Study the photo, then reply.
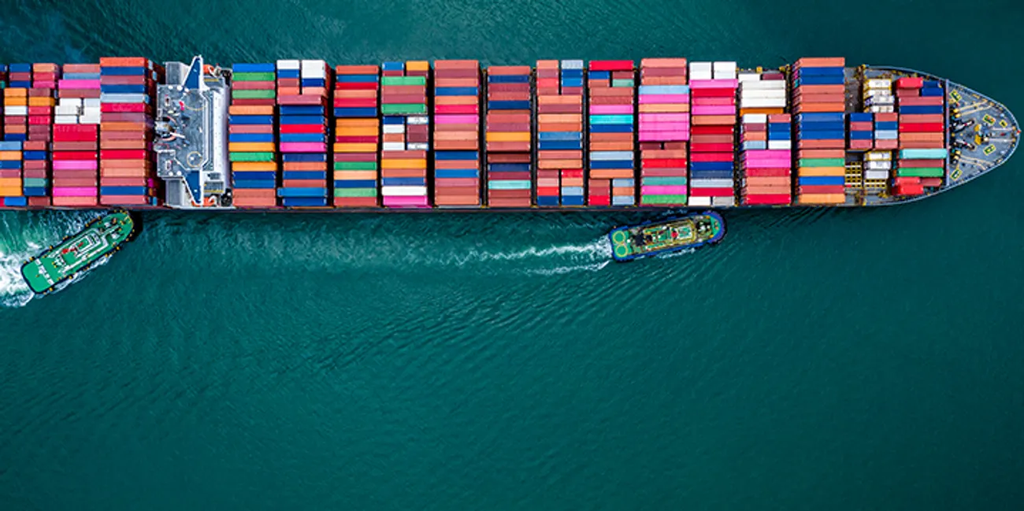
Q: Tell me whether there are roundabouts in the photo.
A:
No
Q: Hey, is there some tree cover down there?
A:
No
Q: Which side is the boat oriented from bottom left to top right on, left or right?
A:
left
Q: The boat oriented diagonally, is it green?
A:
Yes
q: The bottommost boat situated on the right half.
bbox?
[608,212,729,263]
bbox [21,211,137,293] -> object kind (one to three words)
boat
